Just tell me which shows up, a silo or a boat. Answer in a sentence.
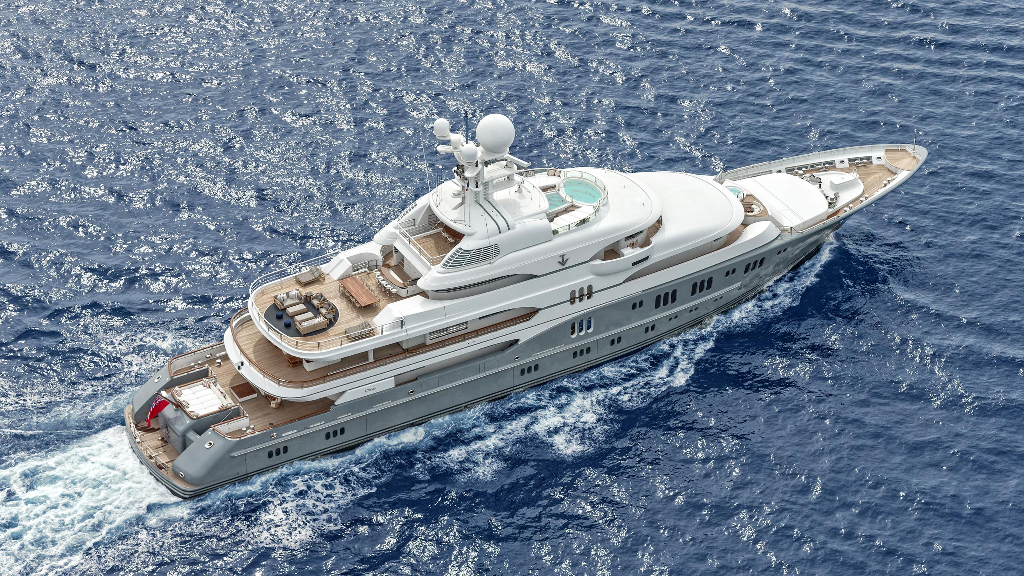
Of the two, only a boat appears.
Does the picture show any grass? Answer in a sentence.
No, no grass is visible.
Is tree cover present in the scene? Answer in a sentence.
No, the picture contains no tree cover.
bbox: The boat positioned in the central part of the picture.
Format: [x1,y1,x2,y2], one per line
[122,108,928,496]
